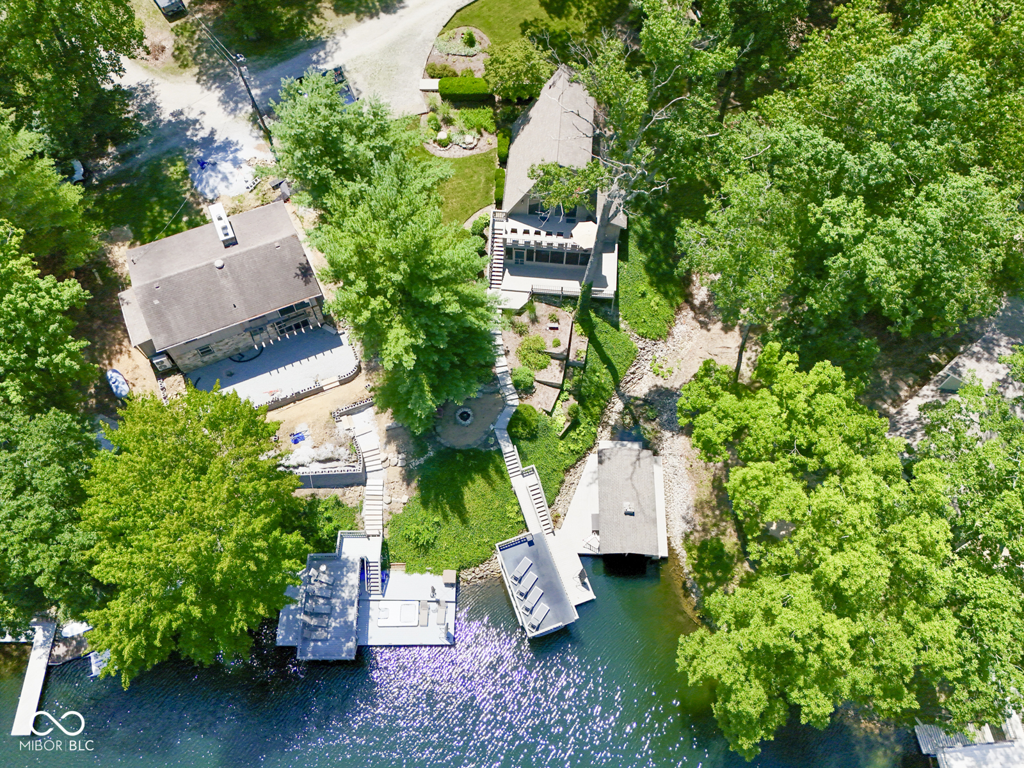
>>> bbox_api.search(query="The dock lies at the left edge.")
[0,624,54,736]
